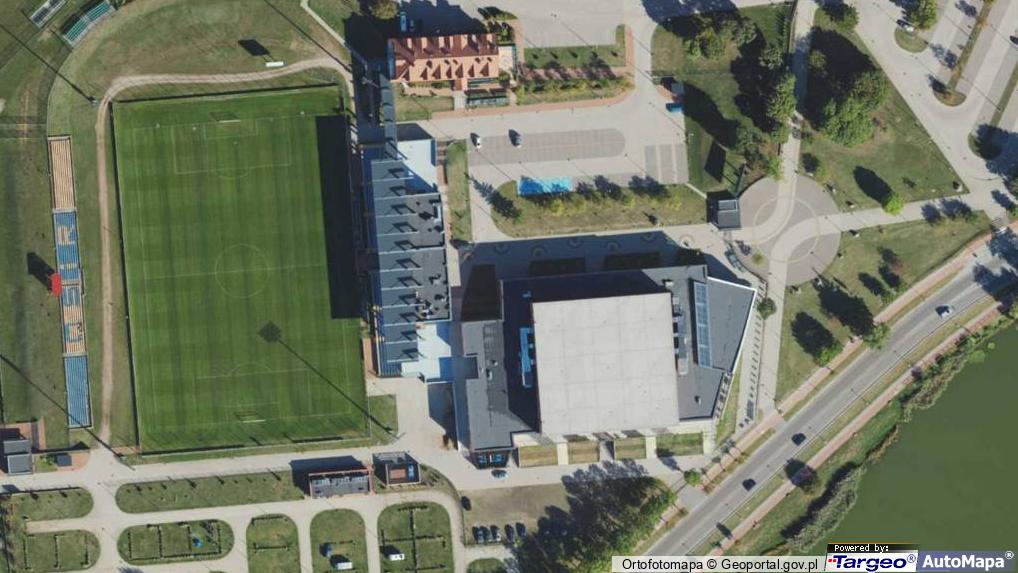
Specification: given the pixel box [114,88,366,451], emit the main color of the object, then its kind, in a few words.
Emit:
green soccer field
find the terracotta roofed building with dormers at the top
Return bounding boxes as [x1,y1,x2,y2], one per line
[391,33,498,90]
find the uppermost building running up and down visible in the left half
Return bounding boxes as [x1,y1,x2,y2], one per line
[376,70,398,155]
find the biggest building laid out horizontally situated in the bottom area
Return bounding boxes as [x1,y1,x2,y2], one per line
[307,466,377,498]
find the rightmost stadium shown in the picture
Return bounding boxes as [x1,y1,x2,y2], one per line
[454,264,758,468]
